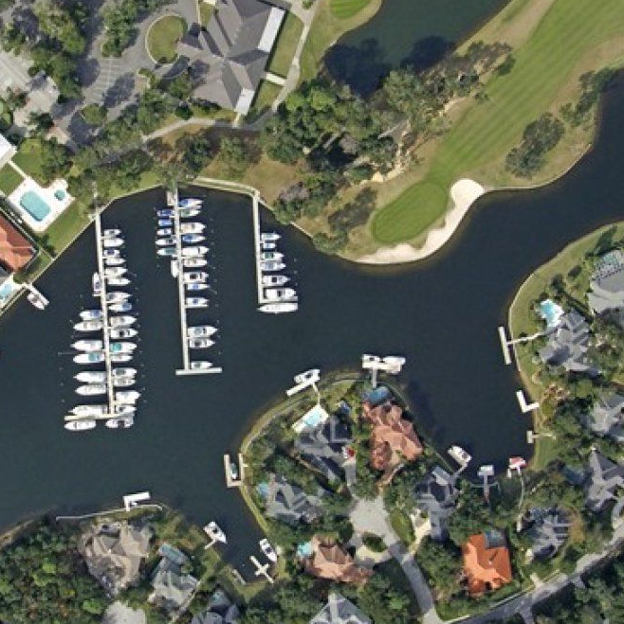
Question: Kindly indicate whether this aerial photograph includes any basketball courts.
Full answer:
No, there's no basketball court here.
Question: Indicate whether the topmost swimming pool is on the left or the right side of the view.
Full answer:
It is on the left.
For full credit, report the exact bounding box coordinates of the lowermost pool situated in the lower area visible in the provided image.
[210,590,229,605]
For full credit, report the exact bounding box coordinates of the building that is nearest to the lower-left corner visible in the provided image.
[88,519,148,592]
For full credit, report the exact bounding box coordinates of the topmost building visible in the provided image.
[177,0,285,125]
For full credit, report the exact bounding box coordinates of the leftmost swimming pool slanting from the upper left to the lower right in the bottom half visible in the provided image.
[160,543,190,568]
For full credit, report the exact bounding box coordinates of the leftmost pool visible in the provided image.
[0,274,23,308]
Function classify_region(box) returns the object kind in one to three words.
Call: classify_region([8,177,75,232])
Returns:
swimming pool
